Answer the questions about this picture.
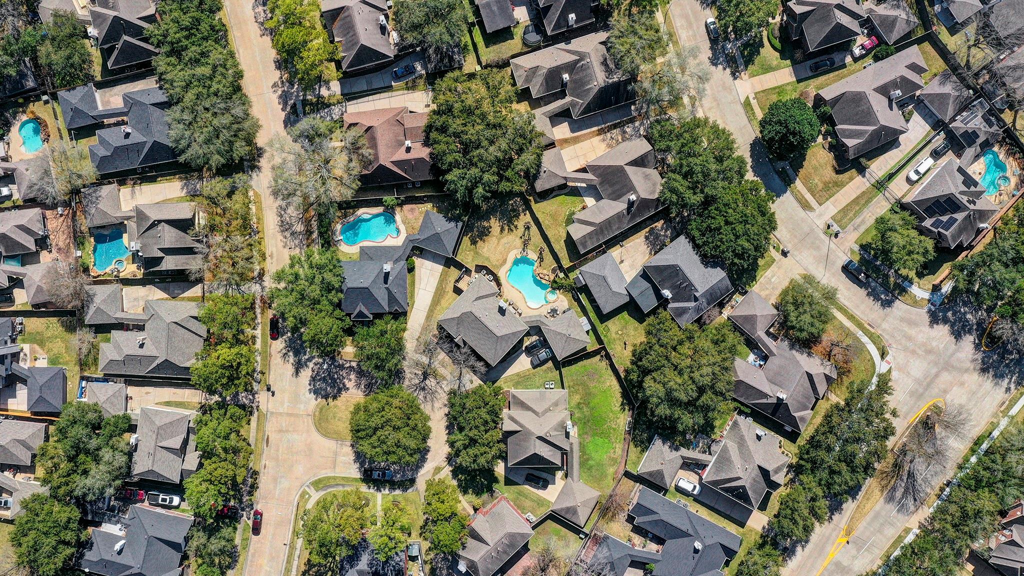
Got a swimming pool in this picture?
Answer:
Yes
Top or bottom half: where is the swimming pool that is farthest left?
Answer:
top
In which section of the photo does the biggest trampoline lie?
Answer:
top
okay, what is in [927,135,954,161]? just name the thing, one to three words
car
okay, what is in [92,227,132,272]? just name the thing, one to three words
swimming pool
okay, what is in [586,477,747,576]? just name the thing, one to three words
house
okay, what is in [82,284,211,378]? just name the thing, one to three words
house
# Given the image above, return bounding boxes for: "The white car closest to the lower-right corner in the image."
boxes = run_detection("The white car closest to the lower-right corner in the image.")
[673,476,702,495]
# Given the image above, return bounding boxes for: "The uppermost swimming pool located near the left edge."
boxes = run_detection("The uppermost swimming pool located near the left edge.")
[15,115,47,157]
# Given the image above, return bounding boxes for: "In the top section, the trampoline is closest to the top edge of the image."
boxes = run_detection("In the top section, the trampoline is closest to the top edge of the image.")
[523,21,544,44]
